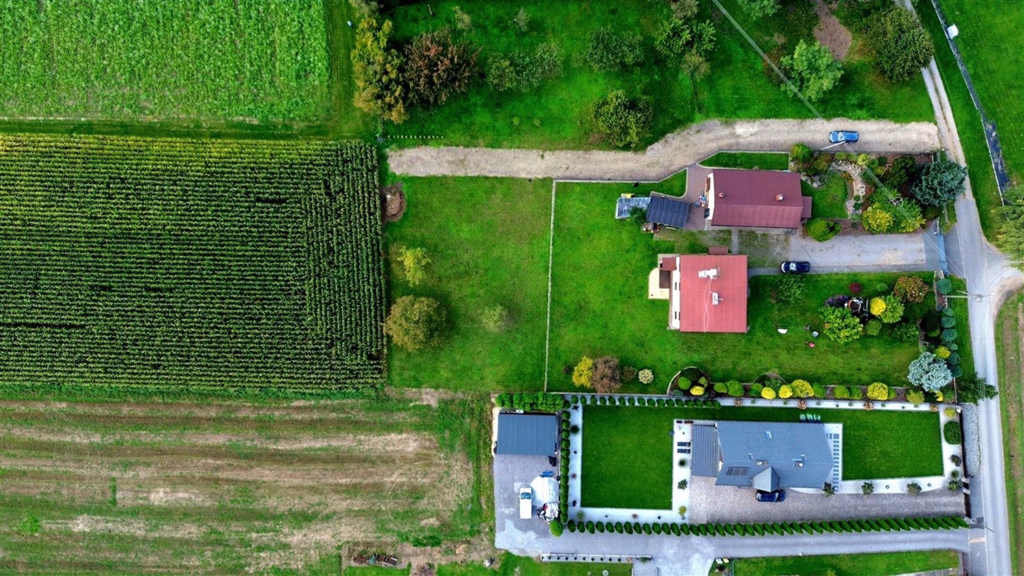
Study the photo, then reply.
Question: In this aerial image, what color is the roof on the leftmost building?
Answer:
blue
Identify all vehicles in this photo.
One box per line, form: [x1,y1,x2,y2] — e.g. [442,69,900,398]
[518,484,533,519]
[827,129,859,144]
[779,259,810,274]
[755,489,785,504]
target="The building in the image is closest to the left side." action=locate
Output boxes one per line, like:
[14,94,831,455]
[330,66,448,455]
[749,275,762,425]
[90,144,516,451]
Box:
[497,412,556,455]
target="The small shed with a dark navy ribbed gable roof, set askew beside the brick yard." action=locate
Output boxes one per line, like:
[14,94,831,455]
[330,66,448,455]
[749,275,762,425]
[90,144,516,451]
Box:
[646,196,692,230]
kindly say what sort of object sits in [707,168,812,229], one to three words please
house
